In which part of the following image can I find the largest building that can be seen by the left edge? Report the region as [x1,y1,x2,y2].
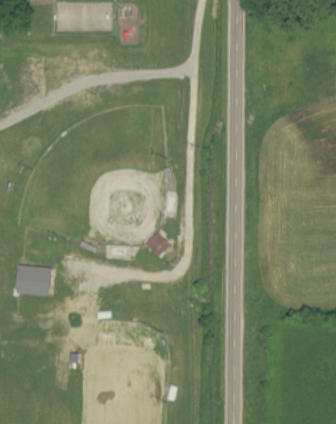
[16,266,52,297]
